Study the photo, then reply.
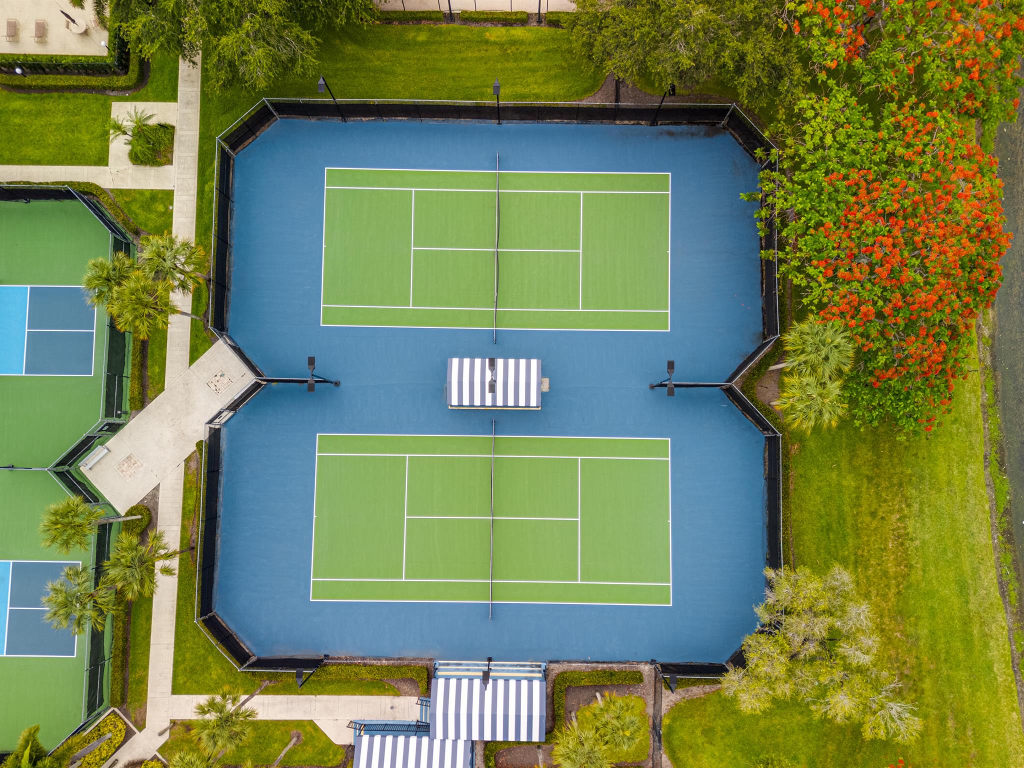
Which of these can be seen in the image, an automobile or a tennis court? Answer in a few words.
tennis court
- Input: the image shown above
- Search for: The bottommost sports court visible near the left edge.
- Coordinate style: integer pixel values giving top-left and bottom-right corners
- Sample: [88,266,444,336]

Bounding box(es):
[0,469,116,747]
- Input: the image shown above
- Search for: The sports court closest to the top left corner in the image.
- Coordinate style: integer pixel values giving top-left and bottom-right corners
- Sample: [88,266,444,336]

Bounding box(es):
[0,205,130,468]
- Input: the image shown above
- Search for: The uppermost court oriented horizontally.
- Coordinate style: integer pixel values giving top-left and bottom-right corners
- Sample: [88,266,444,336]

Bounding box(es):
[229,119,762,388]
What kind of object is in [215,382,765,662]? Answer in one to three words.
tennis court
